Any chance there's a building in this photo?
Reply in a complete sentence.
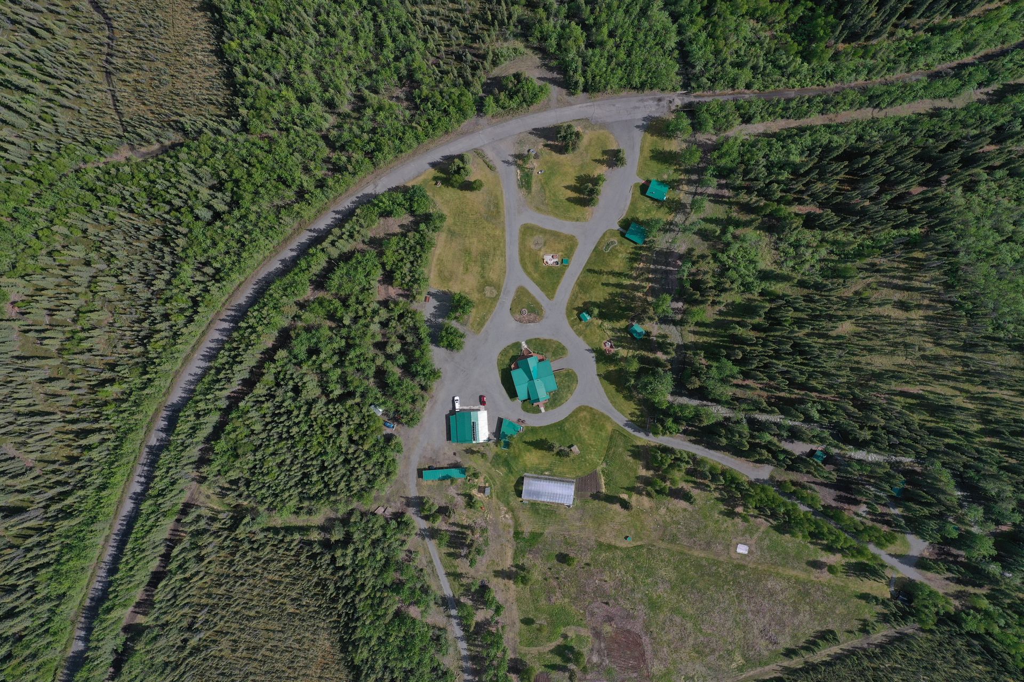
Yes, the frame does contain a building.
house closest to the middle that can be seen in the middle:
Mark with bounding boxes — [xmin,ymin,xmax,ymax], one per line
[511,348,558,408]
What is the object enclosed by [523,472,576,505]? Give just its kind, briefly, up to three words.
greenhouse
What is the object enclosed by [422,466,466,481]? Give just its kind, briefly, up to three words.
shed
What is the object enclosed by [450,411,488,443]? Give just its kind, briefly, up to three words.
building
